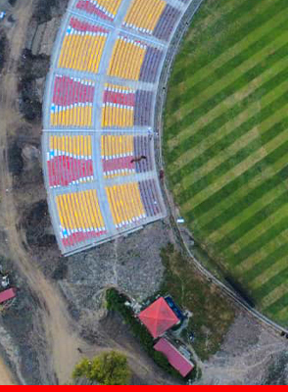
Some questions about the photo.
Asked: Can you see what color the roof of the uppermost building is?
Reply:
red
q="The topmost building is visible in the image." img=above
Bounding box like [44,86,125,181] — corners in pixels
[139,297,180,338]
